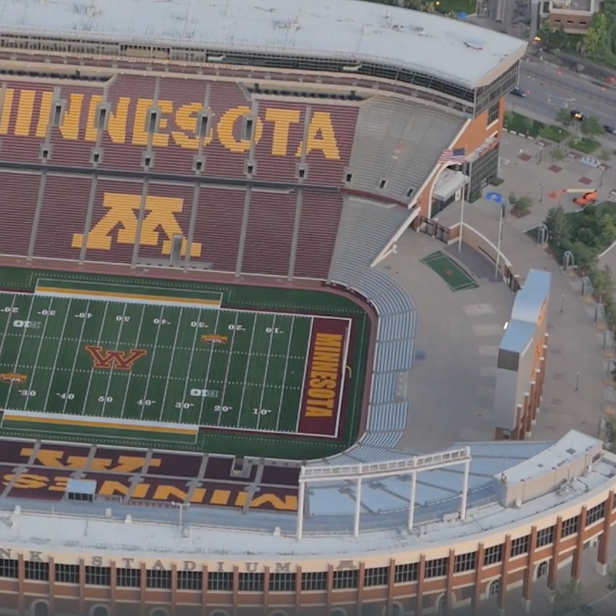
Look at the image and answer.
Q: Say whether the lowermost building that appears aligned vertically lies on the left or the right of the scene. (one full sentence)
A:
The lowermost building that appears aligned vertically appears in the right half of the scene.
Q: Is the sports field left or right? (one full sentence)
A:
It is on the left.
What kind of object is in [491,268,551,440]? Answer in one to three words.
building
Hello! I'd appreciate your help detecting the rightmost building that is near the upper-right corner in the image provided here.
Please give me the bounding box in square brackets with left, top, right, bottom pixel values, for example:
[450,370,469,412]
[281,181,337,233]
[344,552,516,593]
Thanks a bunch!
[550,0,594,34]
